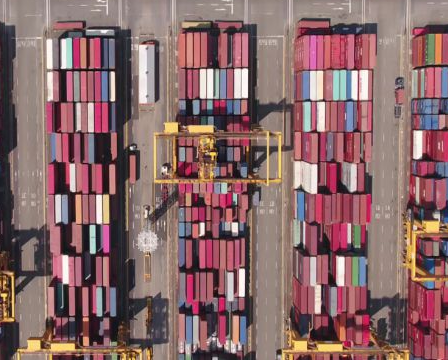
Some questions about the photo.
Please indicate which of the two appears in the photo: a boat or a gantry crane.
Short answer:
gantry crane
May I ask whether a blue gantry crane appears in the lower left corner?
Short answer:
No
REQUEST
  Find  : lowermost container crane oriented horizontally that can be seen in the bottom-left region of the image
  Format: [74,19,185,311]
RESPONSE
[19,318,142,360]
